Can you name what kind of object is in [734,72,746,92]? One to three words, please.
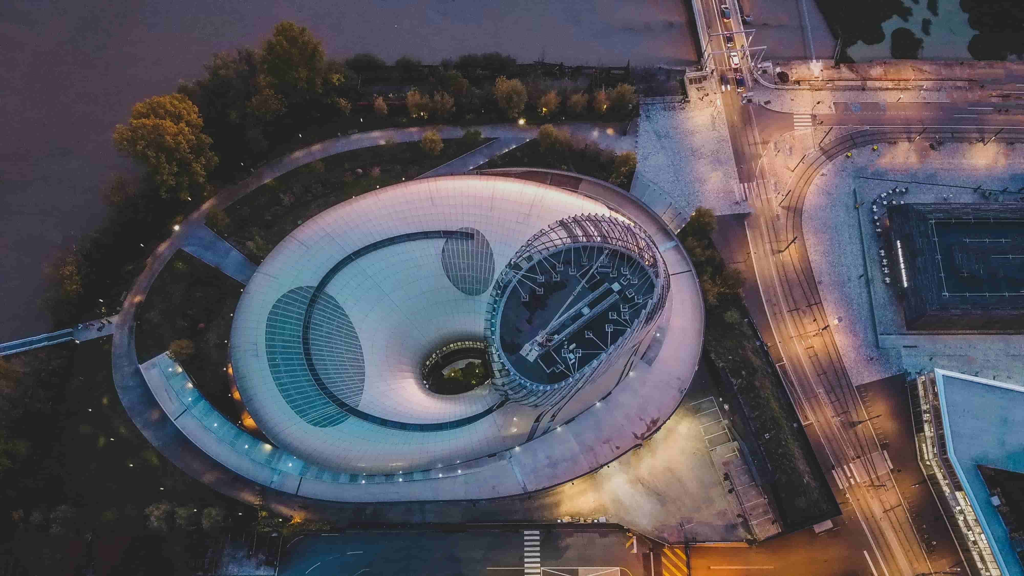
vehicle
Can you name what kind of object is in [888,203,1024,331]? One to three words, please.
building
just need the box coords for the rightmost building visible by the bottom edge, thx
[877,369,1024,576]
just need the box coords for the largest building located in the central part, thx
[139,167,705,502]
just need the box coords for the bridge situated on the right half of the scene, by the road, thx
[693,0,754,75]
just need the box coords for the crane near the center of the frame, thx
[520,248,610,363]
